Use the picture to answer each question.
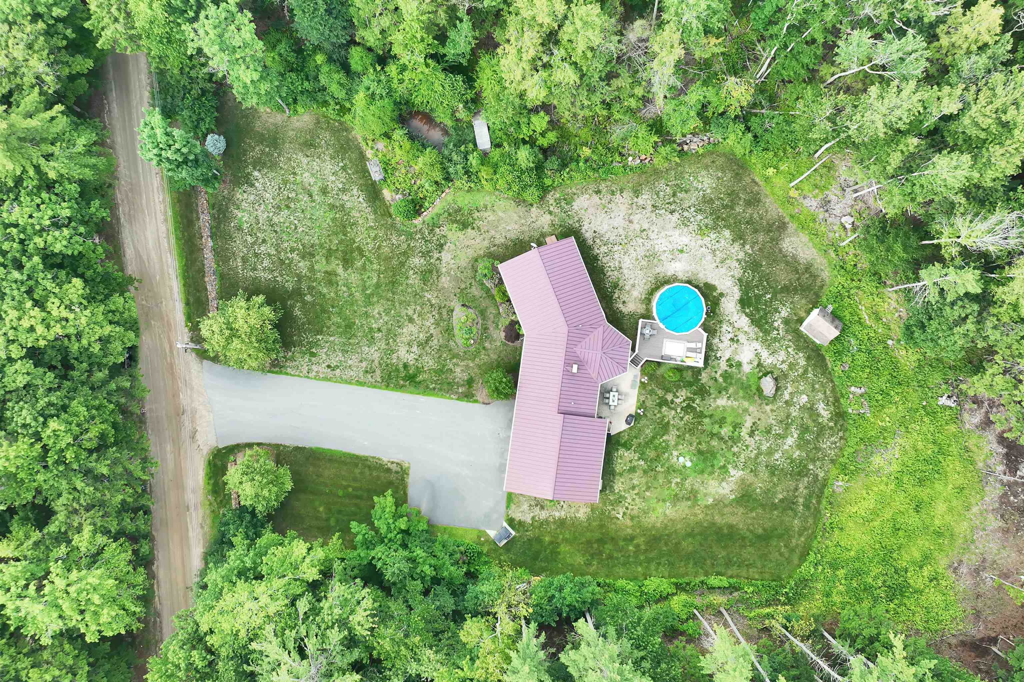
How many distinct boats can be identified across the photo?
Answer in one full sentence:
Not a single boat can be seen.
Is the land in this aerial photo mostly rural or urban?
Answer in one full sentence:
The area is rural.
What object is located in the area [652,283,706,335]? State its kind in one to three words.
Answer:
swimming pool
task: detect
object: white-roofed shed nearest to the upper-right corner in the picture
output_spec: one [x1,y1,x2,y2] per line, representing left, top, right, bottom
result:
[797,305,843,346]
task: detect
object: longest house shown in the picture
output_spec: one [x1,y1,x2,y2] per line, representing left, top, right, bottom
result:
[497,236,633,503]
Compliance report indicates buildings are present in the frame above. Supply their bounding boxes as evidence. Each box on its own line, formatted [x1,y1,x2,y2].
[797,305,843,346]
[497,236,633,503]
